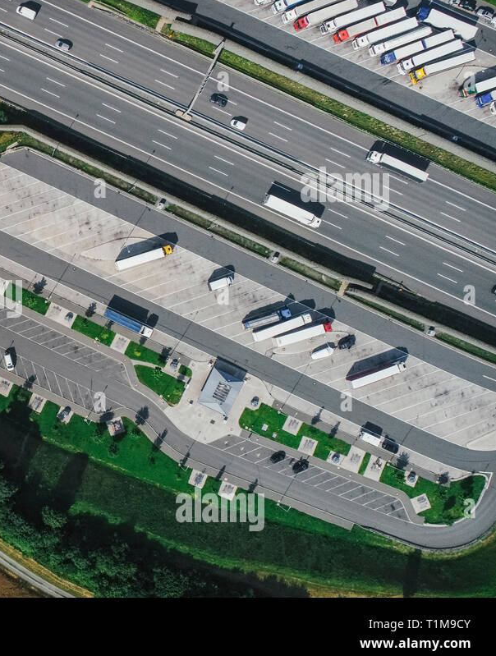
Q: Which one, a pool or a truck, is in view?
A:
truck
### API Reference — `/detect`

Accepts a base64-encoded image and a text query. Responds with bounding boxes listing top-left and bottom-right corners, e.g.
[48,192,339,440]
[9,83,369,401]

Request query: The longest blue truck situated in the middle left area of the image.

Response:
[102,308,156,339]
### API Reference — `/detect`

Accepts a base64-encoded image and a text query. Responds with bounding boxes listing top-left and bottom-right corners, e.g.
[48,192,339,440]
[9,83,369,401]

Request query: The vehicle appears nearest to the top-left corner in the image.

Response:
[17,6,35,20]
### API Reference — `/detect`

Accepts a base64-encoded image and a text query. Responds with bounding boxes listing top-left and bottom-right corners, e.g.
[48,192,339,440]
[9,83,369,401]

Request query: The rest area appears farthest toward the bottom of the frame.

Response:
[0,146,496,553]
